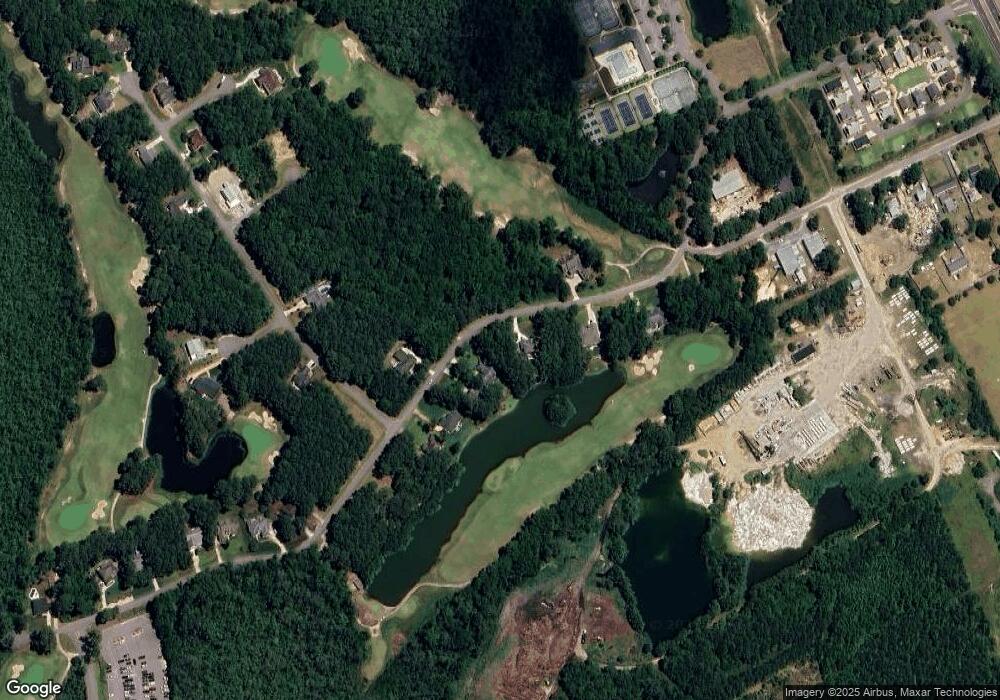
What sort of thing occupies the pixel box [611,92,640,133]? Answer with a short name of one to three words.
sports court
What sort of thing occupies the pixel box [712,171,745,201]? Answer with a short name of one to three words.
building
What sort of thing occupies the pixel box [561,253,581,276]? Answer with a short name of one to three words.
house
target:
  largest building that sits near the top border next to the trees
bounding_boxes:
[591,28,655,73]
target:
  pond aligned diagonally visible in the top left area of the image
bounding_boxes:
[10,73,62,159]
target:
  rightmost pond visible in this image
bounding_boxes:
[743,485,856,589]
